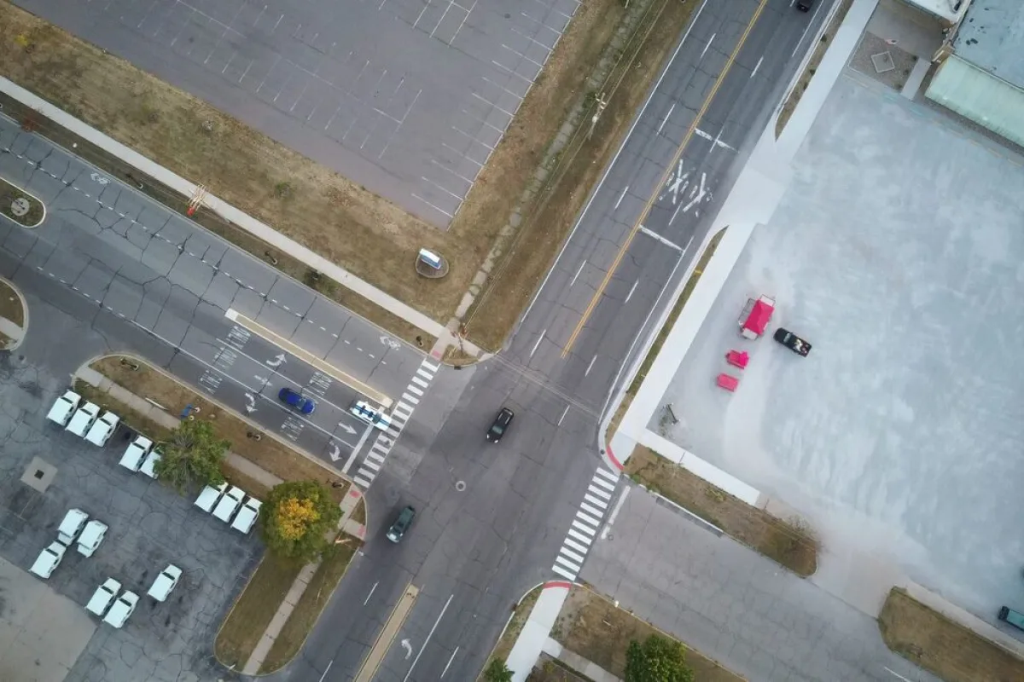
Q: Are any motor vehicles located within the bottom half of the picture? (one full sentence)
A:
Yes, within the bottom half of the picture there is a motor vehicle.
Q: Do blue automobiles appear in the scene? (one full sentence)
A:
Yes, you can see a blue automobile in this photo.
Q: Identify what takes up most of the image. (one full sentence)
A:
The bulk of the photo consists of paved ground.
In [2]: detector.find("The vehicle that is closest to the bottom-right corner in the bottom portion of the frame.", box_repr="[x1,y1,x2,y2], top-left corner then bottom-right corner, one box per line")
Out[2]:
[992,600,1024,632]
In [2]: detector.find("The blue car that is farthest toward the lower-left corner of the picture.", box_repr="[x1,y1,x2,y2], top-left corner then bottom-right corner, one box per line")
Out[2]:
[277,386,316,413]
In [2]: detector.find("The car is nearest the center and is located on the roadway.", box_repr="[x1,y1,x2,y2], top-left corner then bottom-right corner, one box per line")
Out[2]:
[487,406,515,444]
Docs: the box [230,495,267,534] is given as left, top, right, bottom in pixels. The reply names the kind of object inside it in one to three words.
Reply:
van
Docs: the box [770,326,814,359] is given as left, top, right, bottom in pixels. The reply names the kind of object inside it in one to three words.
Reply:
truck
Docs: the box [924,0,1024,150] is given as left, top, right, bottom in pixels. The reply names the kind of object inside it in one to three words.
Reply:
building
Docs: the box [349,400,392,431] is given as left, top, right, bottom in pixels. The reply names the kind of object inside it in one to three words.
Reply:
car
